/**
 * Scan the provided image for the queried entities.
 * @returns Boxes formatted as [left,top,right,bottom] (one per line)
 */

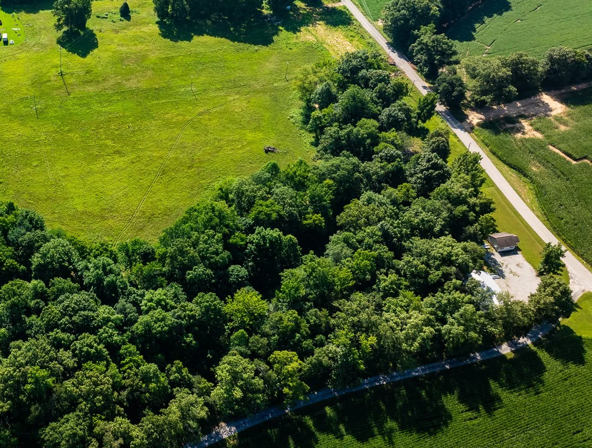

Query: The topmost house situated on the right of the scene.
[487,231,520,253]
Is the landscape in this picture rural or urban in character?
rural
